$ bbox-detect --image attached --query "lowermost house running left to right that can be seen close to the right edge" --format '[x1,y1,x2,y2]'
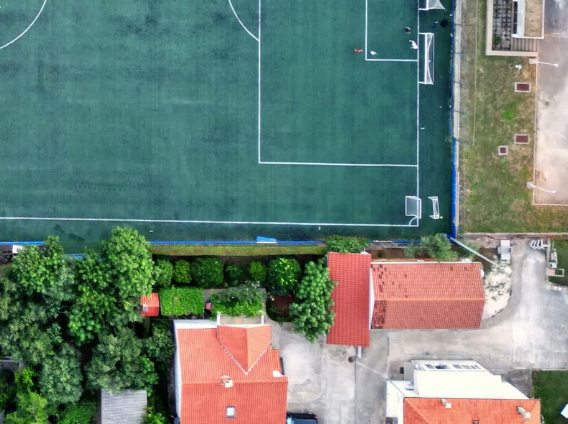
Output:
[394,357,541,424]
